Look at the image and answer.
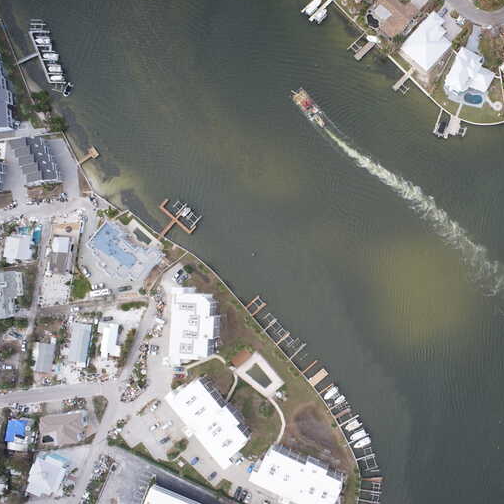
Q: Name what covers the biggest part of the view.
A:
water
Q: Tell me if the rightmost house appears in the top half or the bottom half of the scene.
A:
top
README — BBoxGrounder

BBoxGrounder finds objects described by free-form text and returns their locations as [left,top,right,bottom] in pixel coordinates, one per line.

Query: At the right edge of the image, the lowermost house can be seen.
[446,47,495,92]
